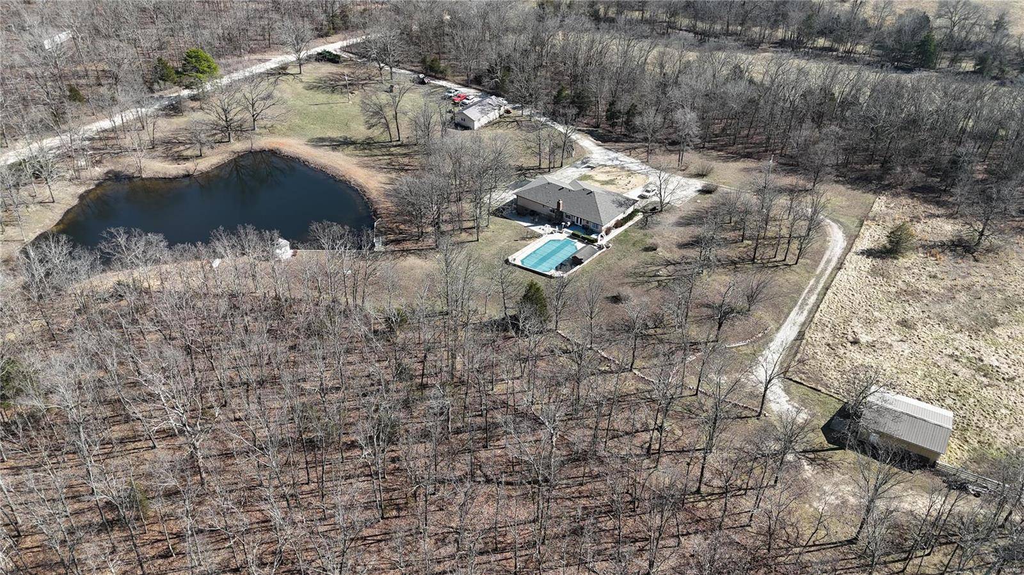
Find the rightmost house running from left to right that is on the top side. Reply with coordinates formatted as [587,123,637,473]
[515,177,643,235]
